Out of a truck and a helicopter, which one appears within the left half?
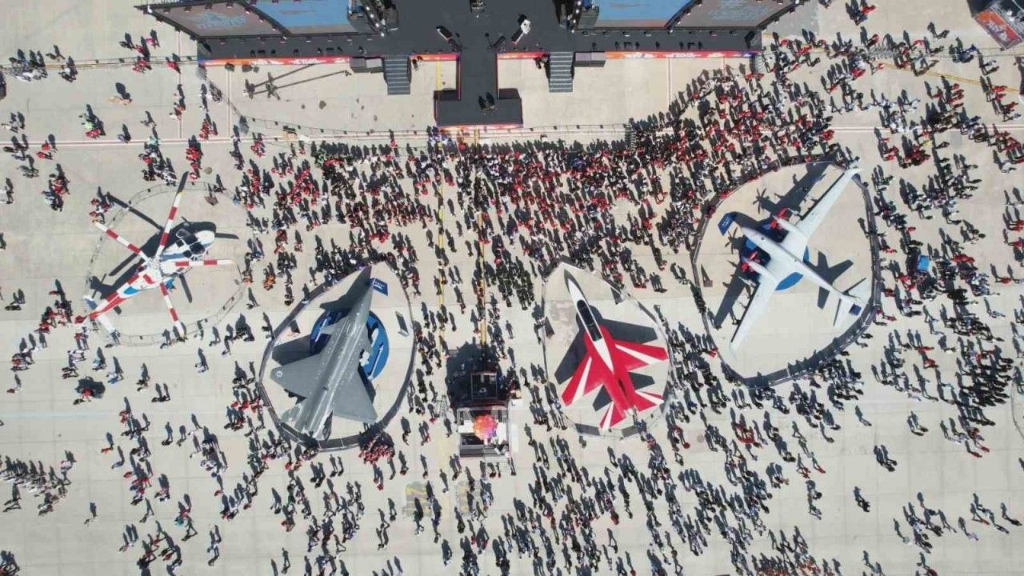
helicopter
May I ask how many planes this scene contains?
3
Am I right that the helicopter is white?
Yes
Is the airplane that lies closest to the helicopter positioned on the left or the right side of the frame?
left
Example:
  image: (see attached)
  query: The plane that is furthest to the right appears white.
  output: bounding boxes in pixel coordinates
[734,168,881,357]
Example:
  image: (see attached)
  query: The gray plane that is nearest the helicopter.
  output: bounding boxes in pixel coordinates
[269,284,379,448]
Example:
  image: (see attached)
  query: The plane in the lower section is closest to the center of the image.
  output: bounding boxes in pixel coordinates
[559,276,668,429]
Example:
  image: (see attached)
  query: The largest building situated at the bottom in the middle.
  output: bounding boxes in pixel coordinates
[457,391,512,450]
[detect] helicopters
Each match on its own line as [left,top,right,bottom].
[74,197,234,345]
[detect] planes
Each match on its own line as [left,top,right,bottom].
[559,276,668,429]
[269,284,379,448]
[734,168,881,357]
